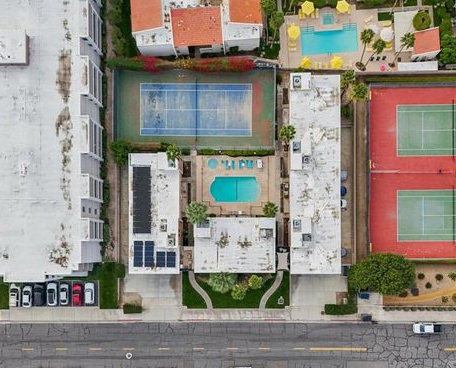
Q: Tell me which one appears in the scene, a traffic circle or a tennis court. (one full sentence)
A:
I can see a tennis court in this picture.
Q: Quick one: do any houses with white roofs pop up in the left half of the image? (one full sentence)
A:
Yes, you'll find a house with a white roof in the left half of the image.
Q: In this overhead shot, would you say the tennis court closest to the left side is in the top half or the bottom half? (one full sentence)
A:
Seen from above, the tennis court closest to the left side lies in the top half of the view.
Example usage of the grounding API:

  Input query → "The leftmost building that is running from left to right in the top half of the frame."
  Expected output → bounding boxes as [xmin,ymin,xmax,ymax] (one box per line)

[130,0,266,61]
